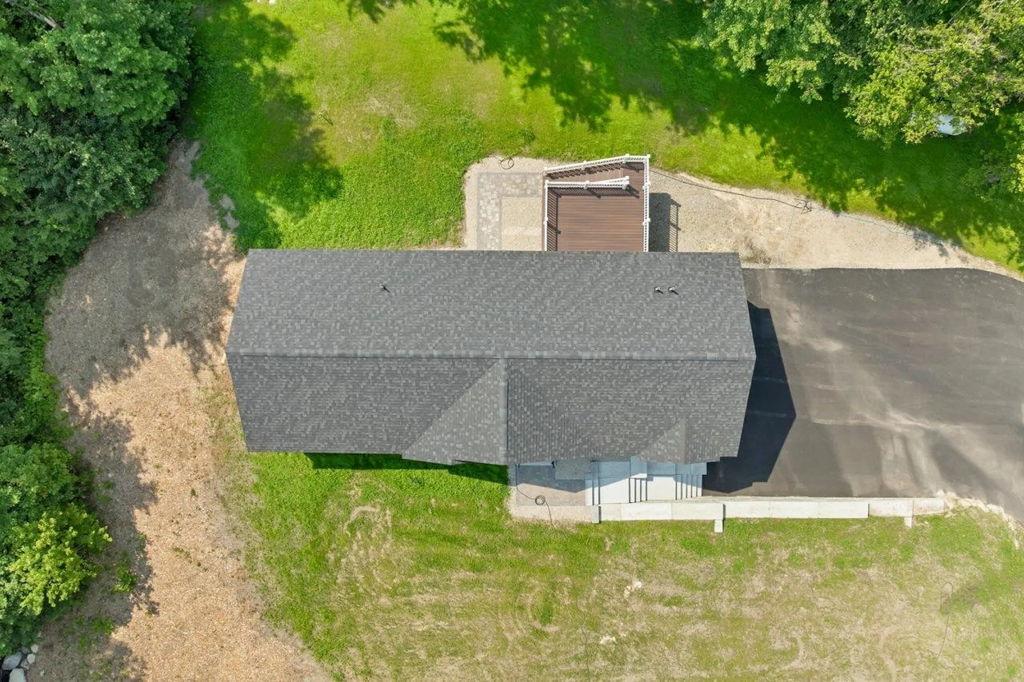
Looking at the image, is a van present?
No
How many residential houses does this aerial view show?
one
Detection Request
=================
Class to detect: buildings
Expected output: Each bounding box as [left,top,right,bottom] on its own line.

[226,249,757,465]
